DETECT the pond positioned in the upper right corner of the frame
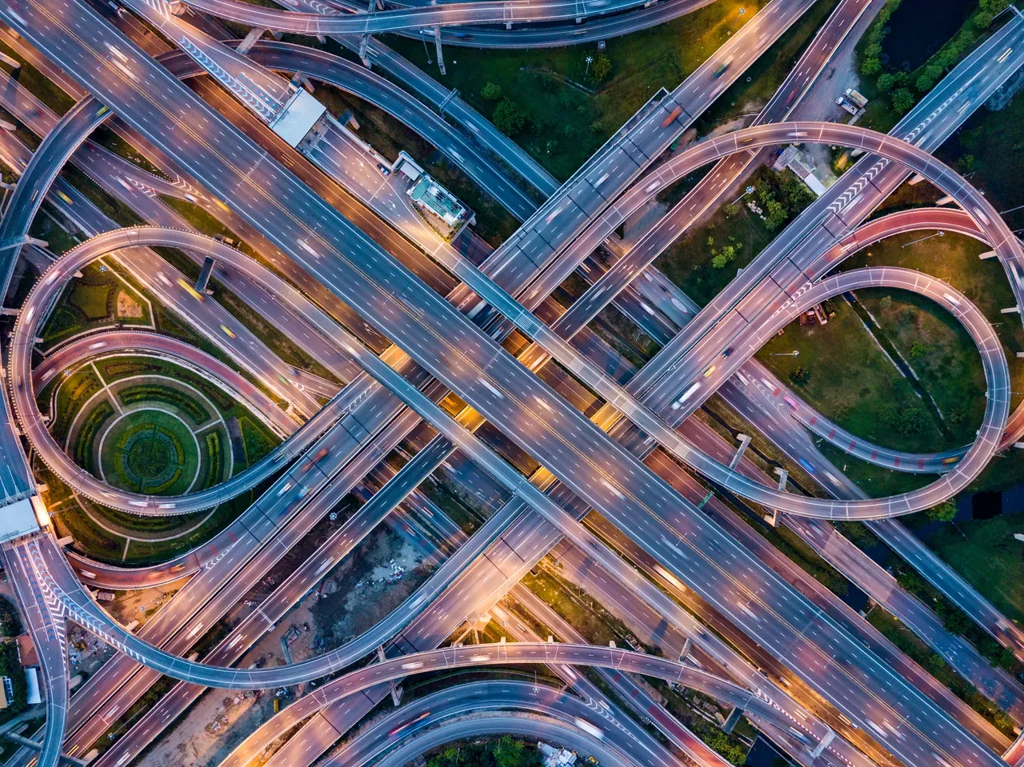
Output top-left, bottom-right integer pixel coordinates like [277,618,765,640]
[882,0,973,69]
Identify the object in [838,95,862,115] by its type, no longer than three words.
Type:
vehicle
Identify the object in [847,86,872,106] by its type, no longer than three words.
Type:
vehicle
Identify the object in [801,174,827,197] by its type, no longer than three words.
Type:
shed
